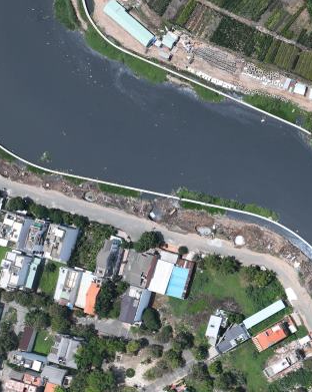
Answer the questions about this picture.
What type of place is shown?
residential area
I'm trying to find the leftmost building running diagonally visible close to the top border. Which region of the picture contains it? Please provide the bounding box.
[104,0,159,51]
